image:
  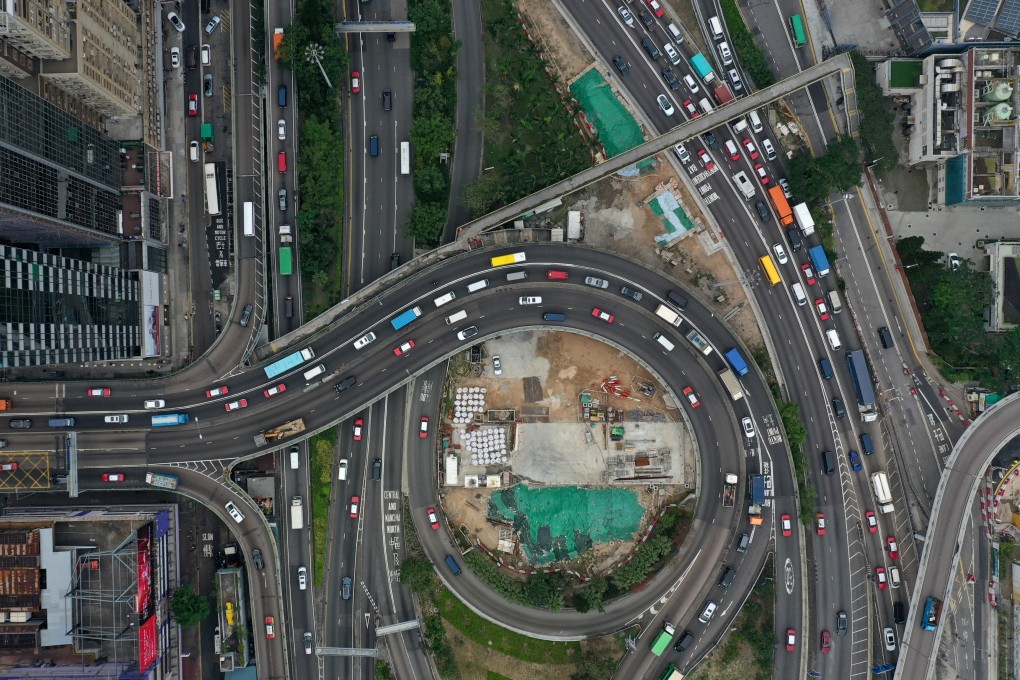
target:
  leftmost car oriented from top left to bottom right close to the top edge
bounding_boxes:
[167,11,186,33]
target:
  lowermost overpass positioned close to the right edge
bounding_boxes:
[890,391,1020,680]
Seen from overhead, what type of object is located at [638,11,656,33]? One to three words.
car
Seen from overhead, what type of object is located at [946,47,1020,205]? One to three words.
building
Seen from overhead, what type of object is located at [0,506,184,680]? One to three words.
building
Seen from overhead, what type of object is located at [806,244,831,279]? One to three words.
truck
